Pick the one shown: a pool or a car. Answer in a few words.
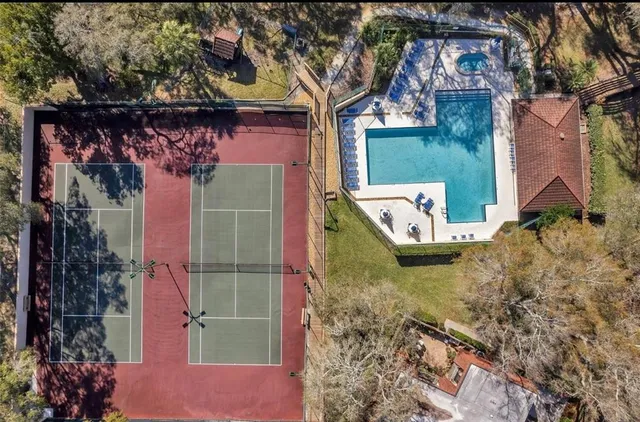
pool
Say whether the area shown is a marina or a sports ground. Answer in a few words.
sports ground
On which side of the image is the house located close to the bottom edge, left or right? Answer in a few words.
right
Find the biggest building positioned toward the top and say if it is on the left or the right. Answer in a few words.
right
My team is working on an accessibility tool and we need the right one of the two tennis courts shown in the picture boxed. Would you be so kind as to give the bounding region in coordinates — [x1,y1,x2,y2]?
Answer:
[165,109,308,418]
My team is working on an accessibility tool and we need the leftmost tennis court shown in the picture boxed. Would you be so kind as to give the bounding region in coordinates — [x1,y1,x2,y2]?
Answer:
[26,109,168,418]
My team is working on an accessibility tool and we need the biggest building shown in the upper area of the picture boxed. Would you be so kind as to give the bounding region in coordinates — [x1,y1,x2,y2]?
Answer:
[511,96,586,211]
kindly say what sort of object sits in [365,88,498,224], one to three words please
swimming pool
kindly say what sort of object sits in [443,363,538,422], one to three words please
house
